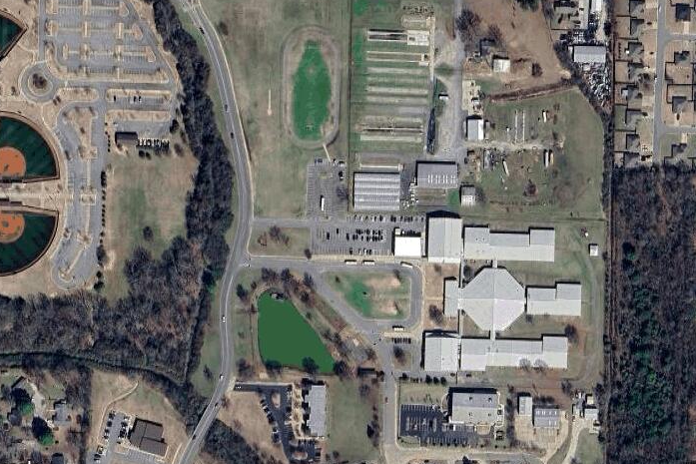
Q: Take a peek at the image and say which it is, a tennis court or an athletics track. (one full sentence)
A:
Looking from above, you can make out an athletics track.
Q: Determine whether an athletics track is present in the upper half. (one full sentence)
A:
Yes, looking in the upper half, one can make out an athletics track.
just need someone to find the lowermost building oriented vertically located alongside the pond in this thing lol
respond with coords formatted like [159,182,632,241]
[305,385,326,436]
